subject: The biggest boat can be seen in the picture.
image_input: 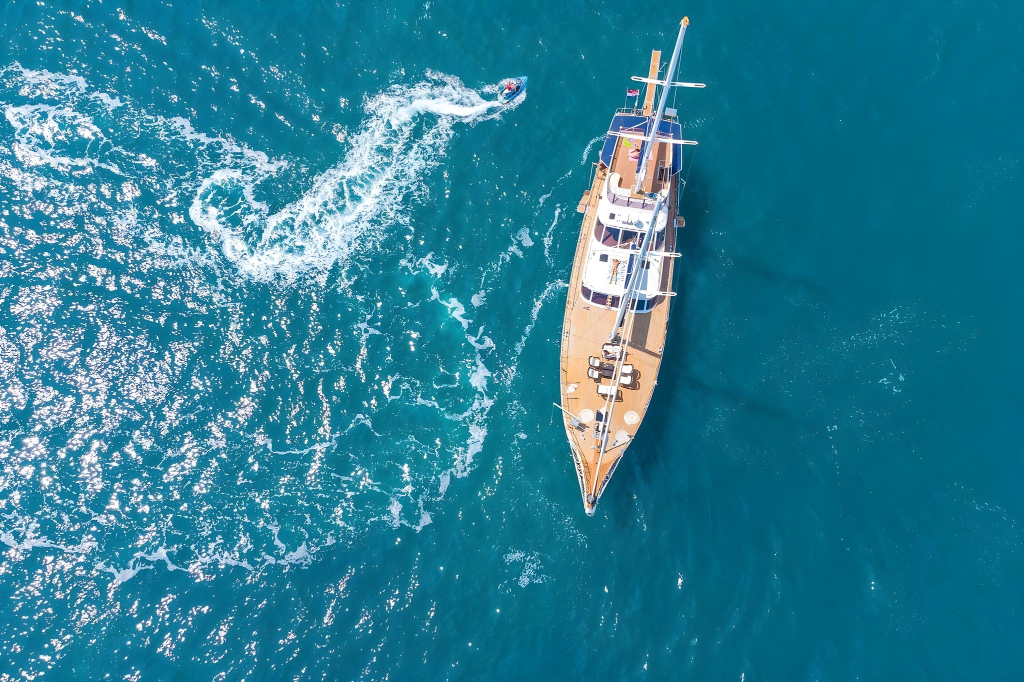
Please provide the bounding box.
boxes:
[552,16,706,520]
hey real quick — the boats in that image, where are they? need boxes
[498,76,526,105]
[552,16,706,520]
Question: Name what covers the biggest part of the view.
water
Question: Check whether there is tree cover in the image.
No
